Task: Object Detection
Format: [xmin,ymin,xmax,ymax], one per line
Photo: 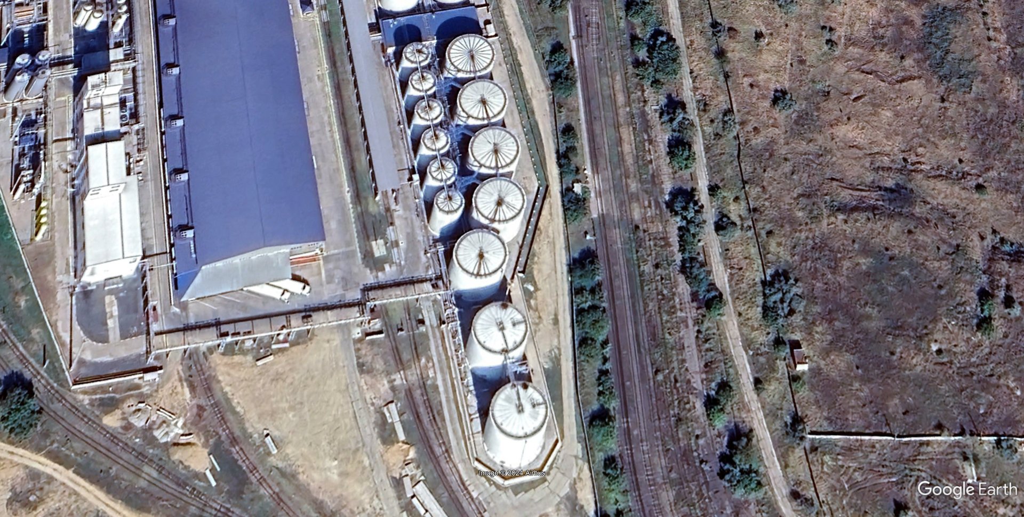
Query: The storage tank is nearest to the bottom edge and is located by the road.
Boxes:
[480,382,548,469]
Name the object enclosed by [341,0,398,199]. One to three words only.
shed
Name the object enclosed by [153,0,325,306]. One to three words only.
warehouse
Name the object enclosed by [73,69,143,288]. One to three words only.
building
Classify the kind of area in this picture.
industrial area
